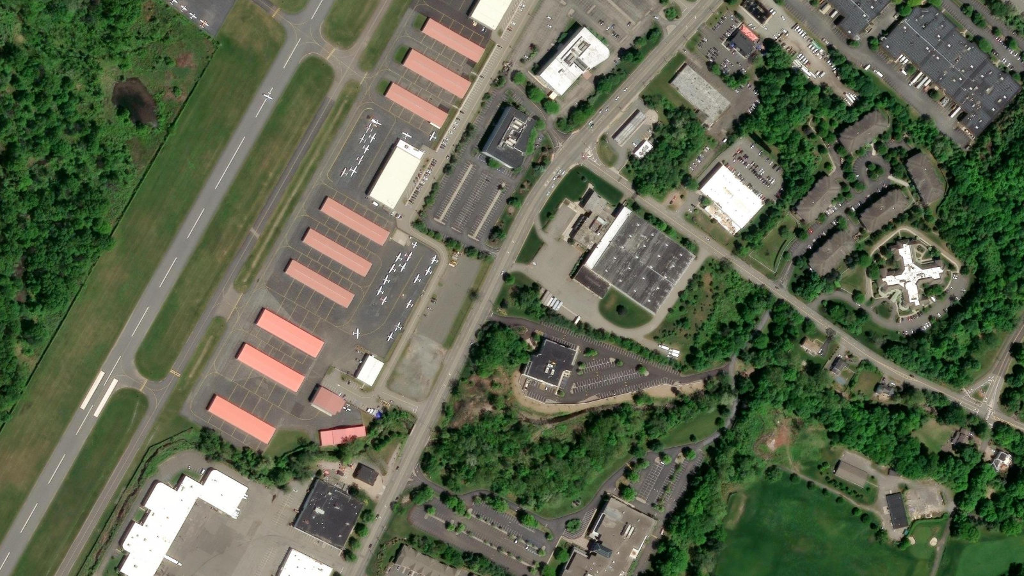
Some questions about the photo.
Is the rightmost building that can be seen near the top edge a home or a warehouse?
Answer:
warehouse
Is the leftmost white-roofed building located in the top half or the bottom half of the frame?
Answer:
bottom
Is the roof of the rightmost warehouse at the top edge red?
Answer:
No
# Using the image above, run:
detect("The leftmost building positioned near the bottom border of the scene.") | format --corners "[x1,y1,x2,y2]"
[116,469,248,576]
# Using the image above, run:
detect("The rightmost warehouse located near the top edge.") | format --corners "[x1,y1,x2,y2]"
[877,5,1022,138]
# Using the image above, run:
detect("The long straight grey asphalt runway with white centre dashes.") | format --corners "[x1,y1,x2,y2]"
[0,0,333,576]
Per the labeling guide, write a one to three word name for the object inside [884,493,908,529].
building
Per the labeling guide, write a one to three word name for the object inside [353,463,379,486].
house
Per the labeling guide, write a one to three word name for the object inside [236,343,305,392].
hangar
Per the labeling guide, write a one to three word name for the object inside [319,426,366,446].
shed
